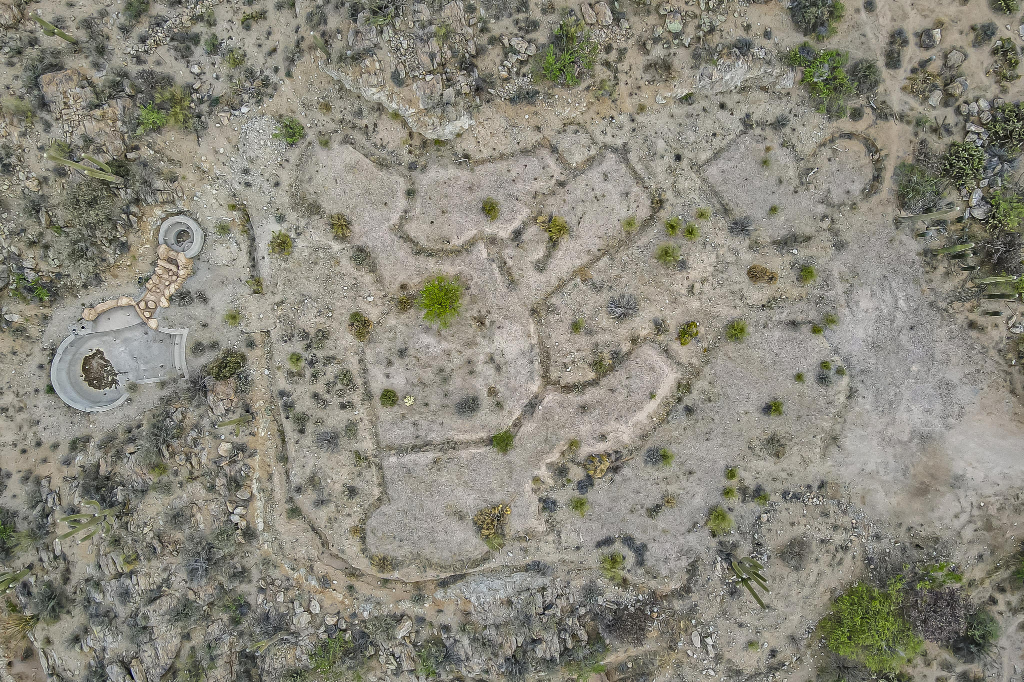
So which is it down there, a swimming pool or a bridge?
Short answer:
swimming pool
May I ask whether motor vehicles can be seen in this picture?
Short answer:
No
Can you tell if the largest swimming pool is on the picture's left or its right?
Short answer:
left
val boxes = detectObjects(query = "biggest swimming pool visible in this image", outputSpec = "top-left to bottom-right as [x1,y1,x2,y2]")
[51,310,191,412]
